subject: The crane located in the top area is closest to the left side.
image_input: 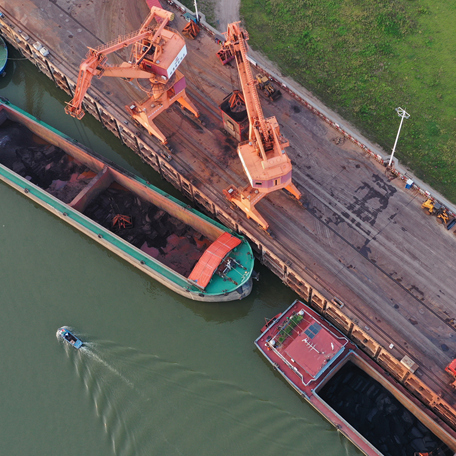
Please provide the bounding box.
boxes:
[60,4,200,209]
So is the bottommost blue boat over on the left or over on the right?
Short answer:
left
